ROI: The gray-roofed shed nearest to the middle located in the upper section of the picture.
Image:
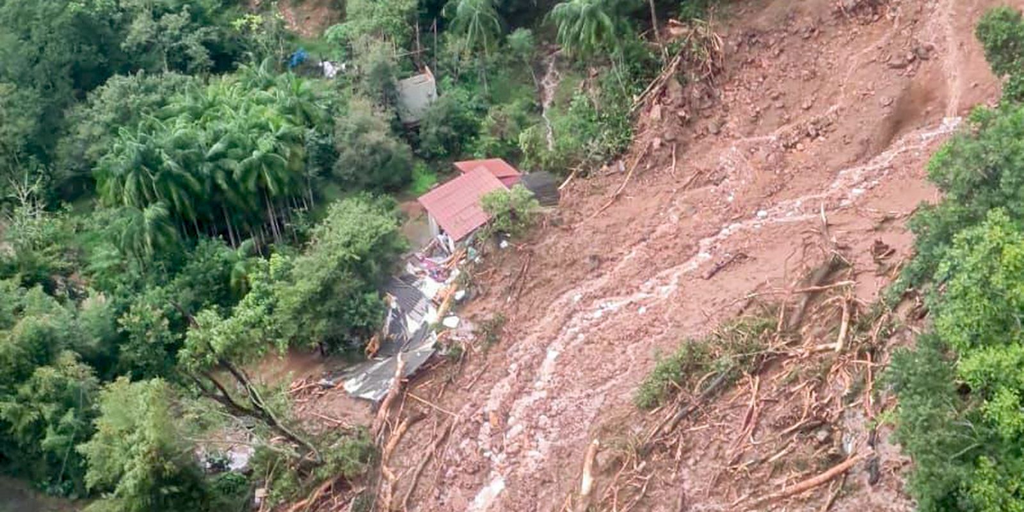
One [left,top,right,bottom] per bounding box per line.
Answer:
[522,171,559,216]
